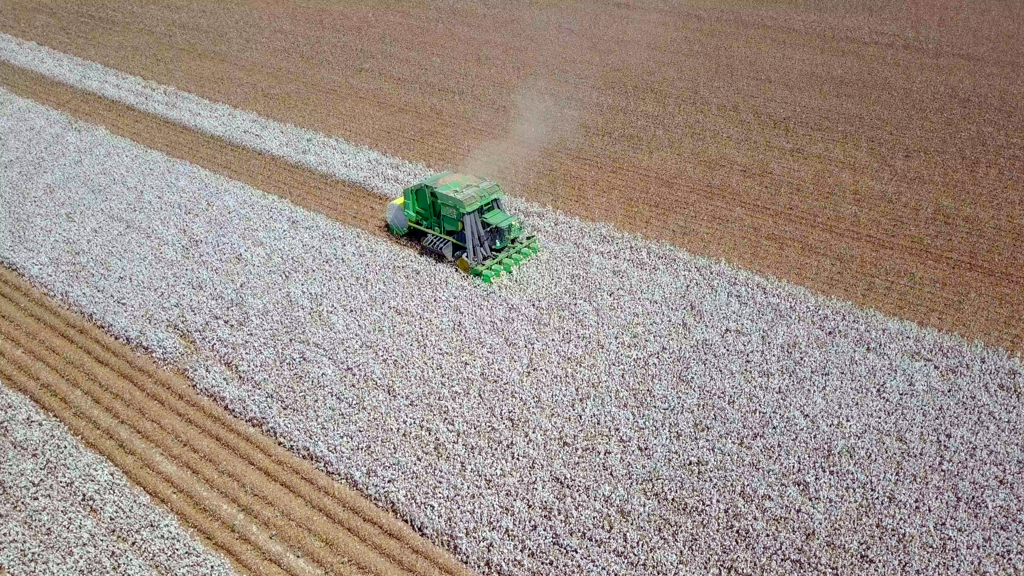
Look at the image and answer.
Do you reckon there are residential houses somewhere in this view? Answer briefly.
No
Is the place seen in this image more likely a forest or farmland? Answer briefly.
farmland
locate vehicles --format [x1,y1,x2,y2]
[388,165,542,293]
